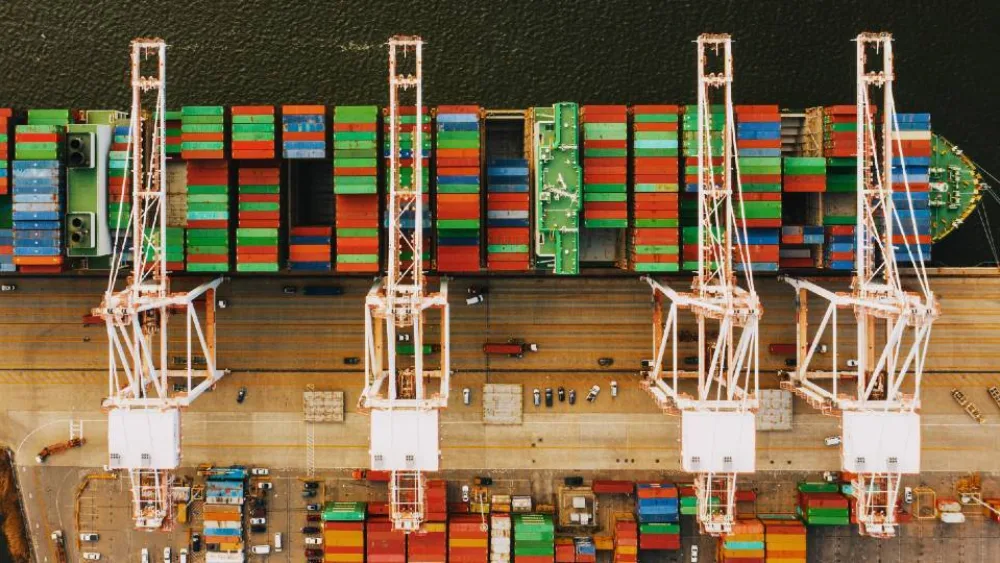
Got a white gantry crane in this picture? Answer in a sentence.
Yes, there's a white gantry crane down there.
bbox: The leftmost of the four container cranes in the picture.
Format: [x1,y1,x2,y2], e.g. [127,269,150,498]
[99,35,235,533]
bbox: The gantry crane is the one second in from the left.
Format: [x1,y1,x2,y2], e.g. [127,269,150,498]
[362,35,460,533]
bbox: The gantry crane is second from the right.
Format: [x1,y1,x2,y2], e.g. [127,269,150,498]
[634,35,762,533]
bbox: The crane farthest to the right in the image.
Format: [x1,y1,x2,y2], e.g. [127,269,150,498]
[771,35,938,533]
